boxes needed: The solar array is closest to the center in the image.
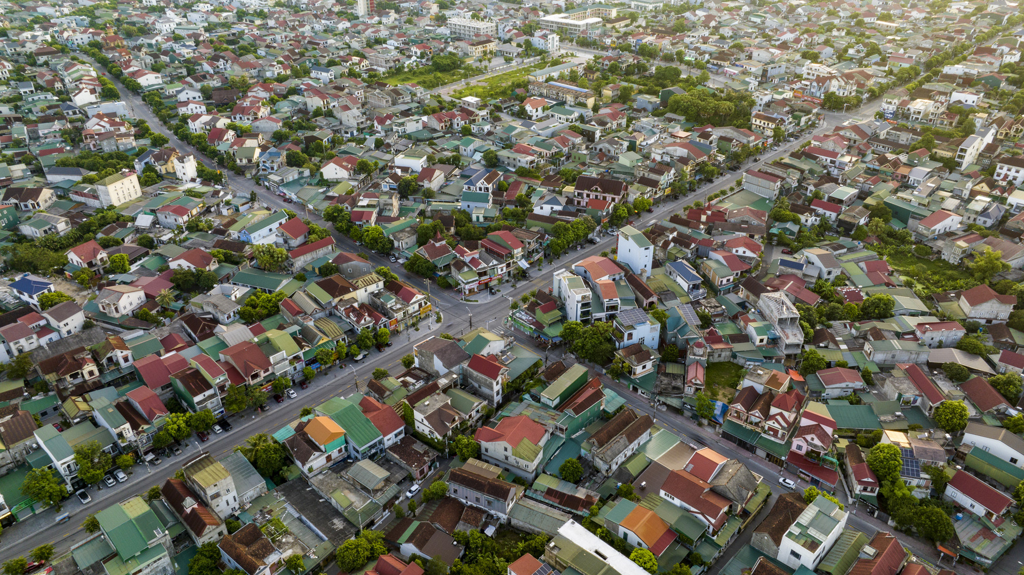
[616,308,649,326]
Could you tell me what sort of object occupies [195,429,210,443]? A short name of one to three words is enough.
car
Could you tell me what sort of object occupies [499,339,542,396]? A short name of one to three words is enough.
shed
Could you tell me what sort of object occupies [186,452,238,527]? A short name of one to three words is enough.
house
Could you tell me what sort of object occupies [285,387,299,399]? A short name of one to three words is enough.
vehicle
